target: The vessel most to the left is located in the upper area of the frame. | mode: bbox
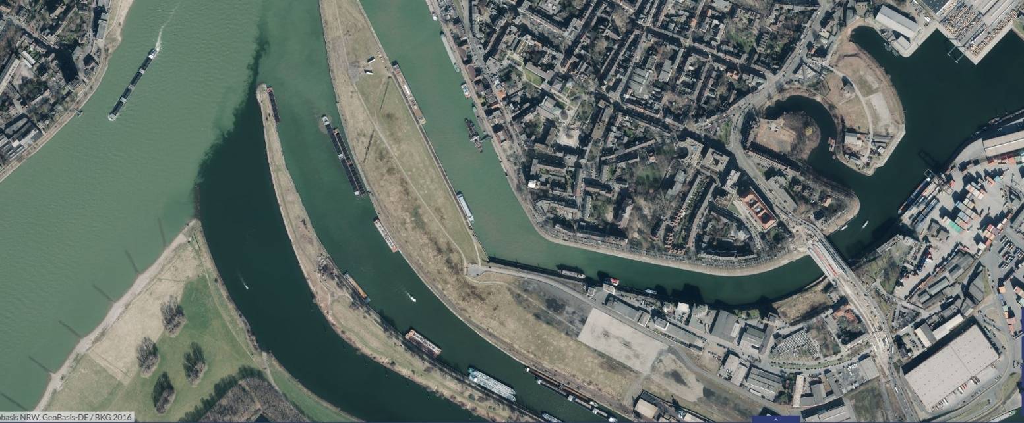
[111,50,159,120]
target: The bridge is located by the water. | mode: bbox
[808,236,857,284]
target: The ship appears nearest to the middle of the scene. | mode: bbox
[456,191,473,222]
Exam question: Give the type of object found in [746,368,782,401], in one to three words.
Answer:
building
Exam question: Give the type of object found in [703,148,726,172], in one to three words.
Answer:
building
